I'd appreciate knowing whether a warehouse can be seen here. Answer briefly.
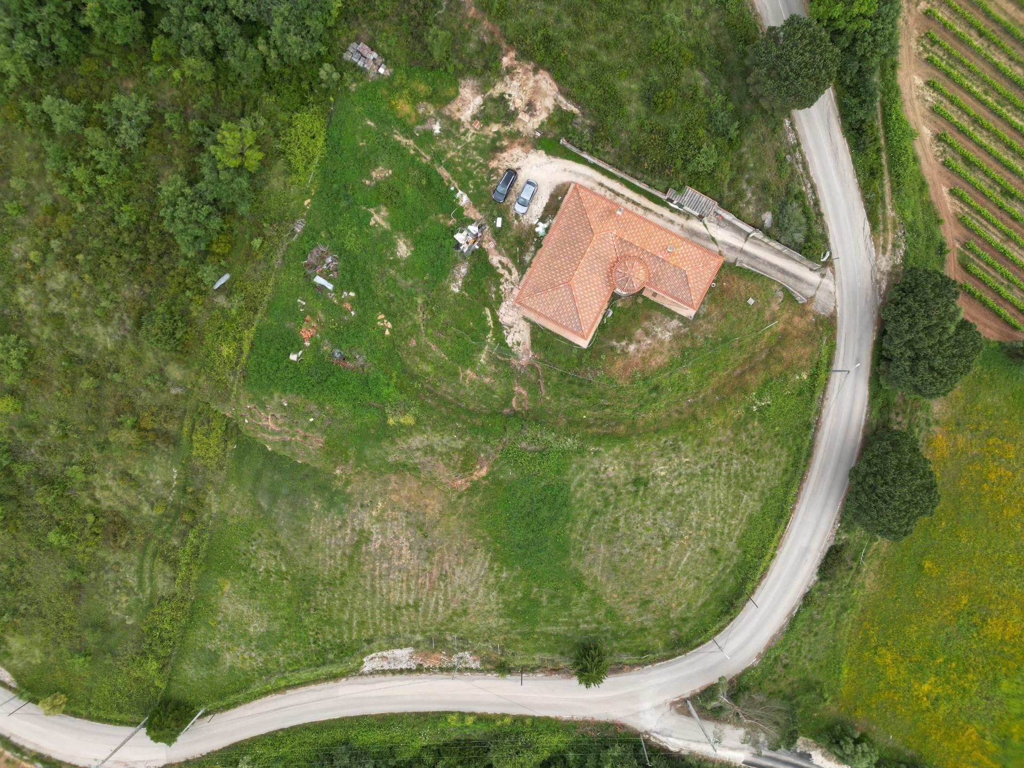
No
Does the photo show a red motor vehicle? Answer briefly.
No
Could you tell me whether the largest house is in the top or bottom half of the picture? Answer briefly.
top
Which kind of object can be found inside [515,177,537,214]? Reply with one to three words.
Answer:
car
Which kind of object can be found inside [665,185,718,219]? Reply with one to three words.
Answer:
shed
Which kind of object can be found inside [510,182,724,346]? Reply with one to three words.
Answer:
house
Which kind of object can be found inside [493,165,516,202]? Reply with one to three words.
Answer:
car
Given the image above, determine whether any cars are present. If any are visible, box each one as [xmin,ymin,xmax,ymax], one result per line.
[493,165,516,202]
[515,177,537,214]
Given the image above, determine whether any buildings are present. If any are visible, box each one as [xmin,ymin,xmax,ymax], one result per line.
[510,182,724,346]
[665,185,718,219]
